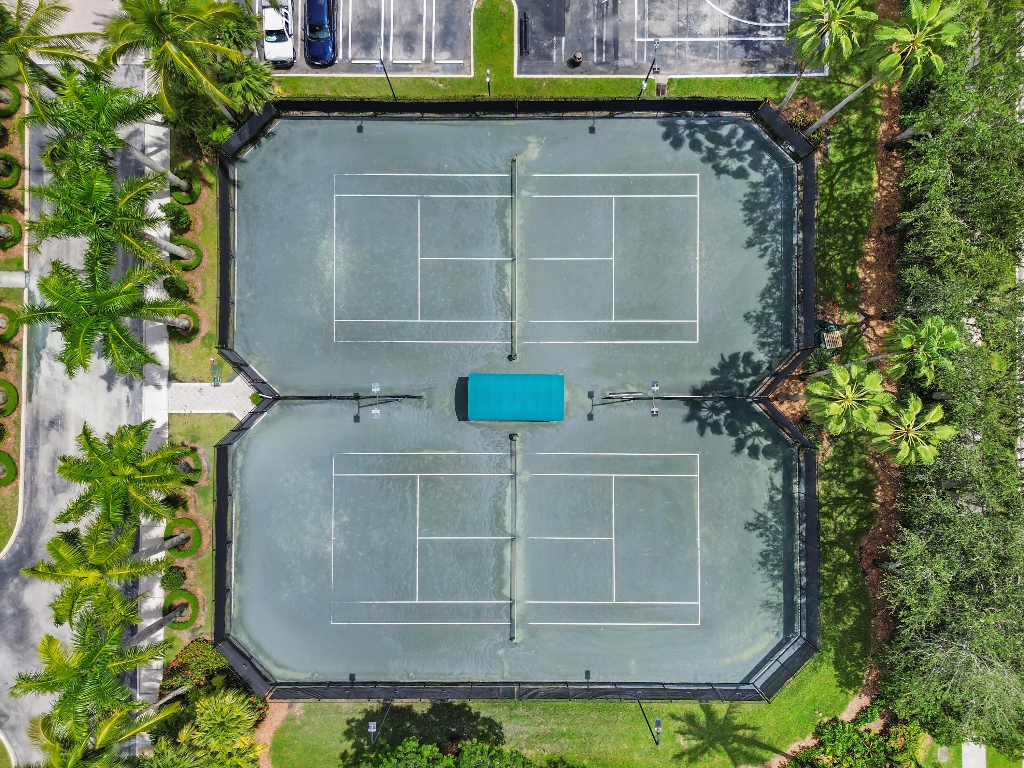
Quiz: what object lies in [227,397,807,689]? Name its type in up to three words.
tennis court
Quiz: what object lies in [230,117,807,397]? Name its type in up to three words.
tennis court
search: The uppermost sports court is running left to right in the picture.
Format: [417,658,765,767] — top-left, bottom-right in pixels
[602,0,791,41]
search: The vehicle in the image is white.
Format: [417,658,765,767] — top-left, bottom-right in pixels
[260,0,300,68]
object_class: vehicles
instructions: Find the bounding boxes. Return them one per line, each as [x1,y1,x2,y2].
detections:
[260,0,300,68]
[301,0,340,66]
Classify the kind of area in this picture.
sports ground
